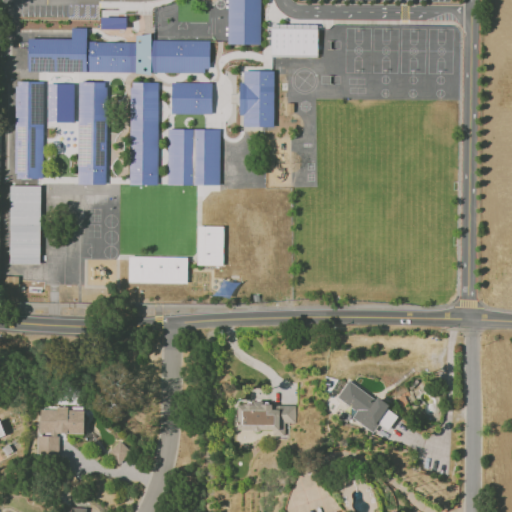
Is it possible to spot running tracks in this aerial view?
No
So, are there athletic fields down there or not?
Yes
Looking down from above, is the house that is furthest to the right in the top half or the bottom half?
bottom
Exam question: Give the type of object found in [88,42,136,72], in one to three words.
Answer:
building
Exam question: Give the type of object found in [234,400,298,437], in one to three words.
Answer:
house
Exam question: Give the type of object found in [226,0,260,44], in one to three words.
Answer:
building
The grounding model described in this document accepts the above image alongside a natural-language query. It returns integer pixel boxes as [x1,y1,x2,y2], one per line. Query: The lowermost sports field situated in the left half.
[120,186,197,254]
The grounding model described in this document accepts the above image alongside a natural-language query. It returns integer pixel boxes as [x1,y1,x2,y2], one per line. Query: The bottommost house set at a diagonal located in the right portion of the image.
[340,384,398,432]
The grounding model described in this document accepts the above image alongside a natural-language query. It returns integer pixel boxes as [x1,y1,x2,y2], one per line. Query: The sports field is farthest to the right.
[295,100,458,302]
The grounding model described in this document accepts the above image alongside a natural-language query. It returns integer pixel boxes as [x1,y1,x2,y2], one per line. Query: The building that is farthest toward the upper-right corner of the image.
[272,24,318,57]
